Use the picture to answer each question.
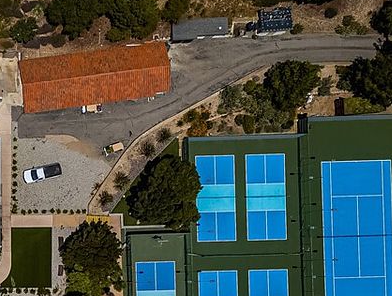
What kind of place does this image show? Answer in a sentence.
This looks like a sports ground.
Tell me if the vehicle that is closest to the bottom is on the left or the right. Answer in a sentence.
The vehicle that is closest to the bottom is on the left side of the image.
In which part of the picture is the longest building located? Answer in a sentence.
The longest building sits in the top left section of the image.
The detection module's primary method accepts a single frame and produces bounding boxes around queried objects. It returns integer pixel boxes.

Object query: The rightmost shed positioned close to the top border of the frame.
[254,7,292,37]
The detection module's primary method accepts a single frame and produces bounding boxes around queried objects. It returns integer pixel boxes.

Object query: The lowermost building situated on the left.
[19,41,171,115]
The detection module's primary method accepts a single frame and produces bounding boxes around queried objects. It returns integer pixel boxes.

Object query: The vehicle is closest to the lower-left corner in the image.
[23,163,62,184]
